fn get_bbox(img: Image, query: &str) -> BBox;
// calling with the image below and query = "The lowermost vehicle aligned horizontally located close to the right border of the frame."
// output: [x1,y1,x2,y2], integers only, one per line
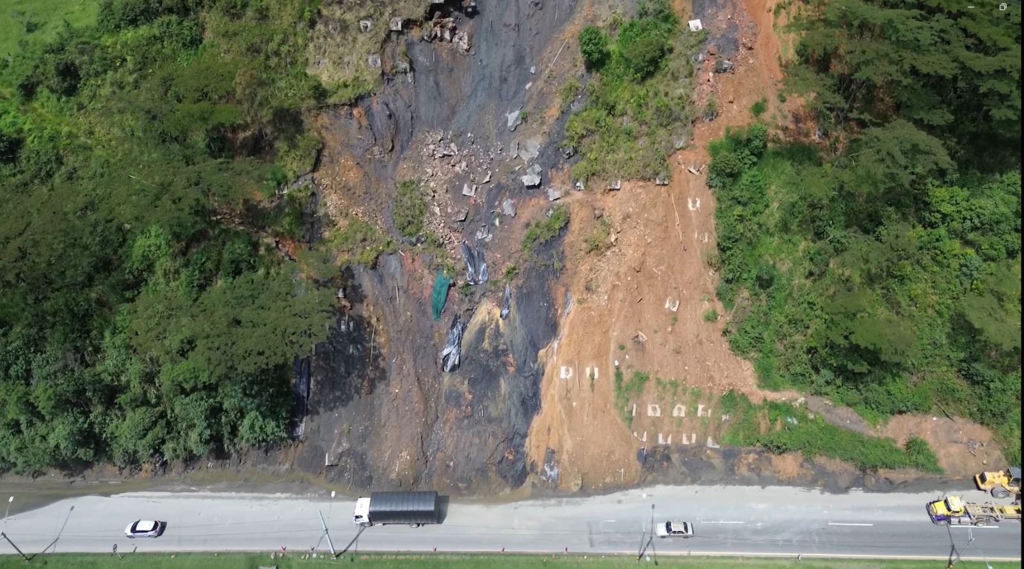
[927,493,1024,527]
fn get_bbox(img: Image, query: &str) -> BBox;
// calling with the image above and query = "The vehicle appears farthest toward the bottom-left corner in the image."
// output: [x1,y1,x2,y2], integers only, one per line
[123,518,163,538]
